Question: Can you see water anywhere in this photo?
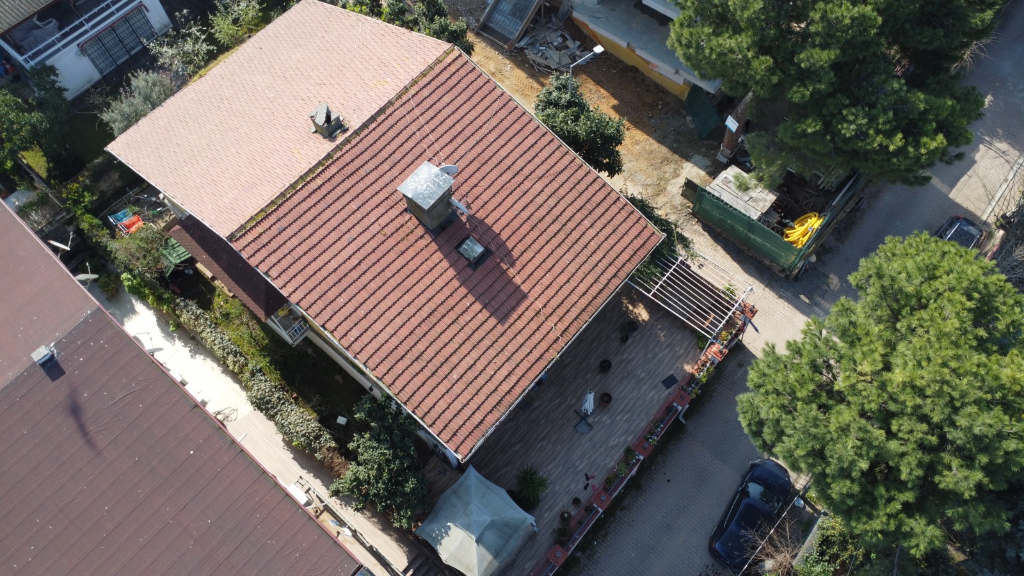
No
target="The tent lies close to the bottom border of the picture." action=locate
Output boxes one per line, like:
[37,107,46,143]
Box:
[412,465,536,576]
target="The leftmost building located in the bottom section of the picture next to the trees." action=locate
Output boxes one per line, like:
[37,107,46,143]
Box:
[0,201,369,576]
